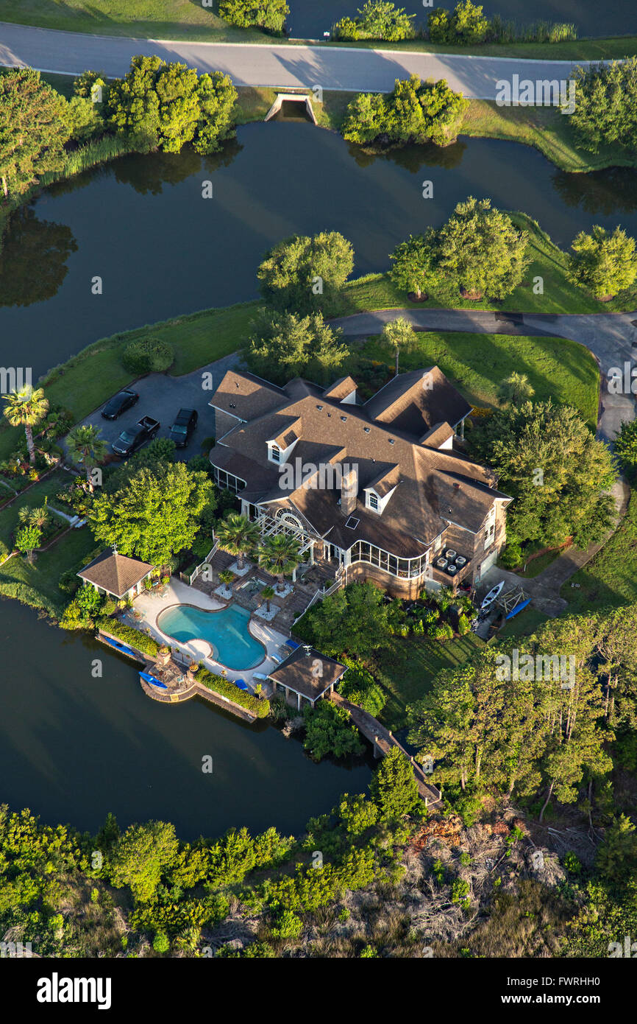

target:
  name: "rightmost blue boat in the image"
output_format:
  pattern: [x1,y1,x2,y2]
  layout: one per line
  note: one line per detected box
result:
[506,597,532,619]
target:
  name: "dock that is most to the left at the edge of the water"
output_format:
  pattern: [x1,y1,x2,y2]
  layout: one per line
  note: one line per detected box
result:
[98,625,262,724]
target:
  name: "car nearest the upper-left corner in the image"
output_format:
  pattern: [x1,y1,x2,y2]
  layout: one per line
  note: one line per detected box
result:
[101,389,138,420]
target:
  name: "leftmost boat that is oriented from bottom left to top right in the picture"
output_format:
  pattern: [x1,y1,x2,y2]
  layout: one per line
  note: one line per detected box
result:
[482,579,505,607]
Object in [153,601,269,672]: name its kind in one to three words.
swimming pool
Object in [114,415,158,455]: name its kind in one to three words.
vehicle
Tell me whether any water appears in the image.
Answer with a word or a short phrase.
Yes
